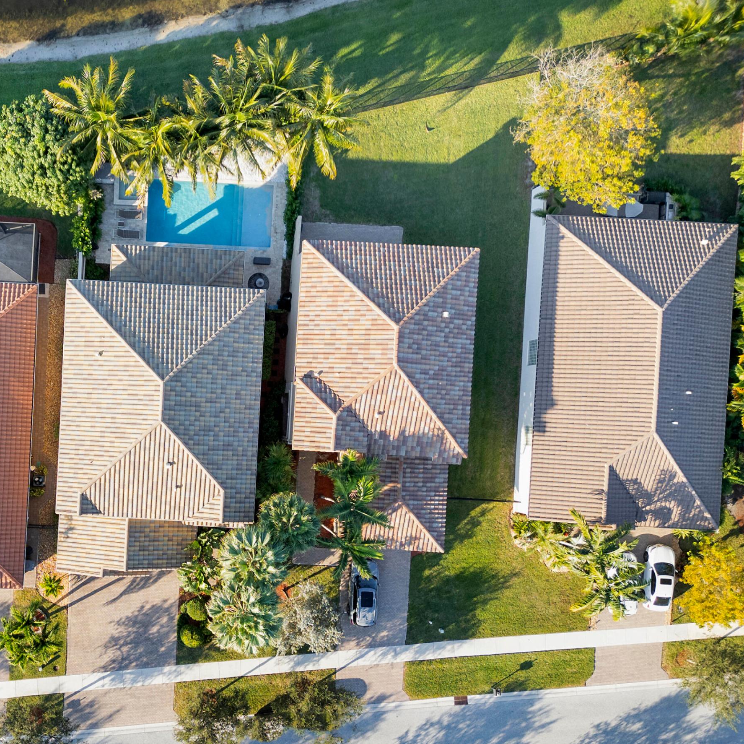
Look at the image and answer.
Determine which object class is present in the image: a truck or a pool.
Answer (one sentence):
Visible in the photo is a pool.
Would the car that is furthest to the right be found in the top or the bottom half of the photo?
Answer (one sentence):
You can find the car that is furthest to the right in the bottom half.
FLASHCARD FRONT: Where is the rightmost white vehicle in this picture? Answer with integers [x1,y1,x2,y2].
[639,541,677,612]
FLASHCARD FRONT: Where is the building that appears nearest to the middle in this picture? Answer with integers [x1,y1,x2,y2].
[283,239,482,554]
